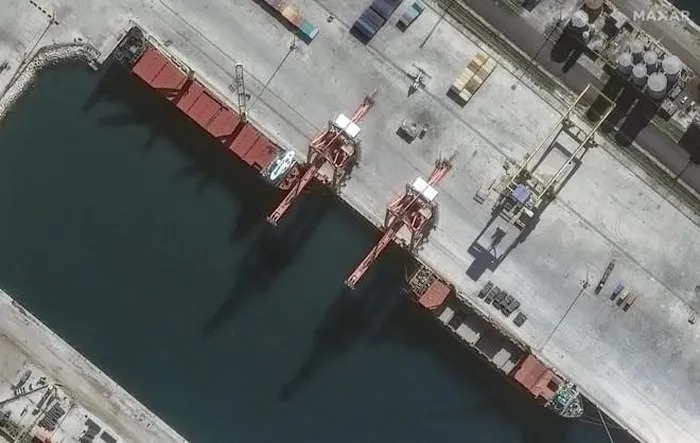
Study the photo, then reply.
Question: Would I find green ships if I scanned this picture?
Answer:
No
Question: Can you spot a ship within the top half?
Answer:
Yes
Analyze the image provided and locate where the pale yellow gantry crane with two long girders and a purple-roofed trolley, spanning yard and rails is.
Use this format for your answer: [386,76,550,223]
[487,85,617,230]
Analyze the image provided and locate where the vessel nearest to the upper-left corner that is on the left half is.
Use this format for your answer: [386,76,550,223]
[117,33,305,191]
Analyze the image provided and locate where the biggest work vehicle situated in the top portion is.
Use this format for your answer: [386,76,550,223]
[409,65,434,92]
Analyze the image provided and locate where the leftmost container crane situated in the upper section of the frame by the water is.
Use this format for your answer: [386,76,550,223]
[264,96,380,228]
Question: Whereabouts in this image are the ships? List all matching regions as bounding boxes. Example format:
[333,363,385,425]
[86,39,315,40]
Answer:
[403,267,582,418]
[117,33,305,191]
